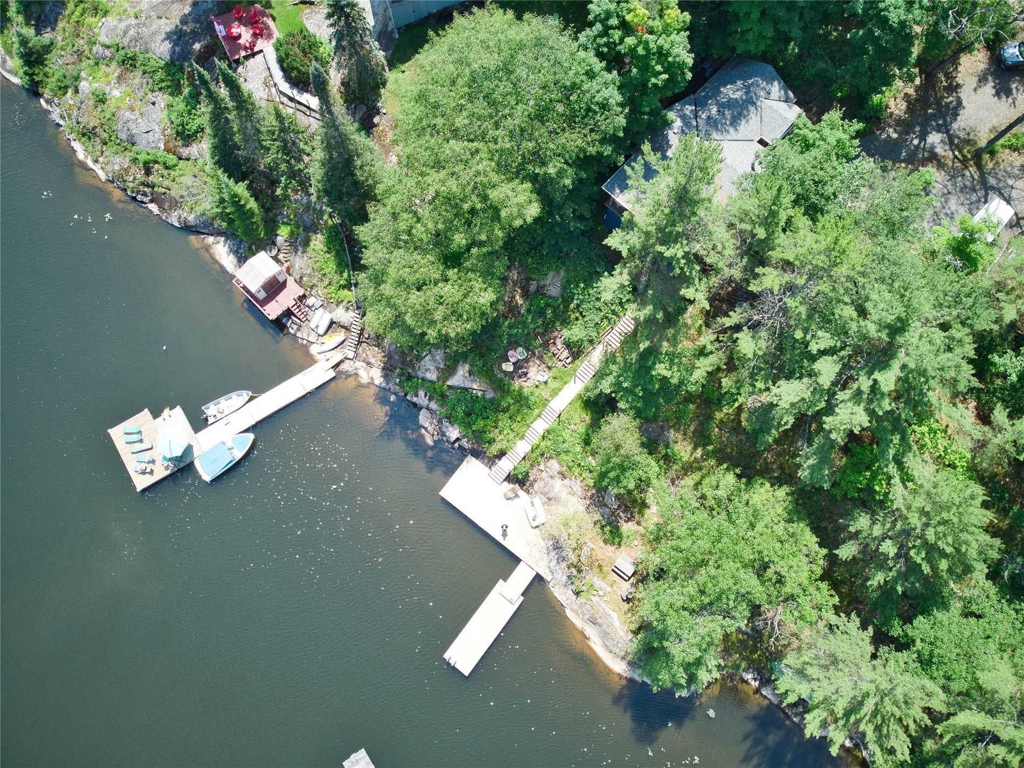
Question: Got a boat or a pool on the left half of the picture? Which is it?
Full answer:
The one visible on the left half of the picture is a boat.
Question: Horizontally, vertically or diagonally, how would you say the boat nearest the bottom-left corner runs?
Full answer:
I'd say the boat nearest the bottom-left corner is aligned diagonally in the picture.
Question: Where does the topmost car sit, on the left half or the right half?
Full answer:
The topmost car sits on the right side.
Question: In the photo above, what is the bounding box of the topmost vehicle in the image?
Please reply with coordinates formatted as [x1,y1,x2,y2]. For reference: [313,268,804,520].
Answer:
[1003,40,1024,68]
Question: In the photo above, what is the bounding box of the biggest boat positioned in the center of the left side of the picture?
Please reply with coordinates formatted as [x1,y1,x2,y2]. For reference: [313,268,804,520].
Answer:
[197,437,253,481]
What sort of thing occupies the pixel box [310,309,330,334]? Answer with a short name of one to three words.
boat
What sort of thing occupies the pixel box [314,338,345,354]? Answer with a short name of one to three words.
boat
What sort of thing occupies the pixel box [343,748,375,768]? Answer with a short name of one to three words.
pier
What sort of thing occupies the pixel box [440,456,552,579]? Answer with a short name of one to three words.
pier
